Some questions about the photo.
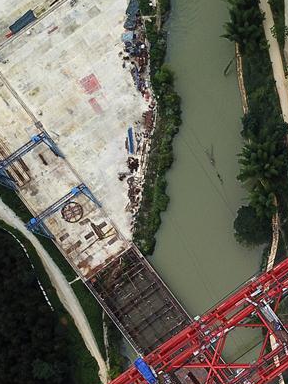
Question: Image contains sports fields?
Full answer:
No, there appears to be no sports field in this shot.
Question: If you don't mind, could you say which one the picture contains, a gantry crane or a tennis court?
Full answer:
There is a gantry crane in the scene.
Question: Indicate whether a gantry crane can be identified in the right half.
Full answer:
No, no gantry crane can be made out in the right half.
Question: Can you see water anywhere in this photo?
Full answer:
Yes, the picture does contain water.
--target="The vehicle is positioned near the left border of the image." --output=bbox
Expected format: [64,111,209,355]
[8,9,34,33]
